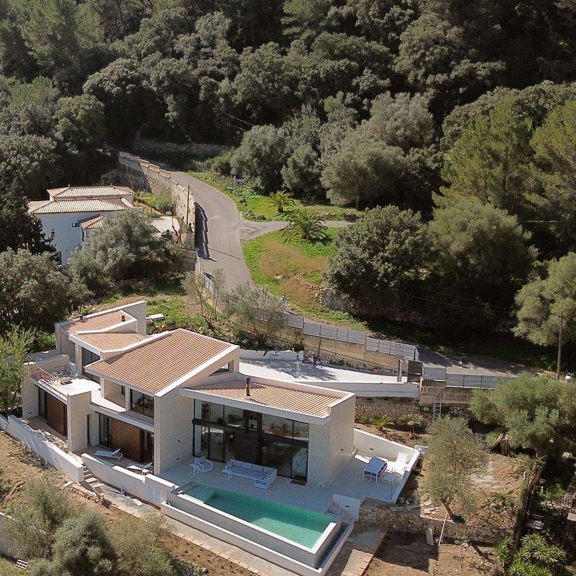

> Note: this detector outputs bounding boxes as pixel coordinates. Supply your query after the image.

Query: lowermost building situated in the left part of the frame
[19,300,356,488]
